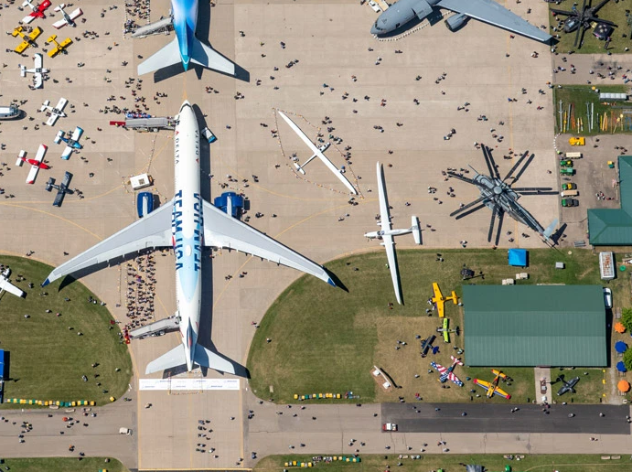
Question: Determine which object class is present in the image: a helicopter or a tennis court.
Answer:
helicopter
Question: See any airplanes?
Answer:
Yes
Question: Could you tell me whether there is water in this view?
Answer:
No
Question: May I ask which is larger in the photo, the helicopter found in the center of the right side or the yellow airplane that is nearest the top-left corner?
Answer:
the helicopter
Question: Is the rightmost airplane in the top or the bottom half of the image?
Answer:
bottom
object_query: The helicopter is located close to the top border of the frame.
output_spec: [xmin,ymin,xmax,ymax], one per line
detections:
[550,0,620,46]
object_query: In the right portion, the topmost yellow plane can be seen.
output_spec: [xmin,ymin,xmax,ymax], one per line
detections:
[427,282,459,318]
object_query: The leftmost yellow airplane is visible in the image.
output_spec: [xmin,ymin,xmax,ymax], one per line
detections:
[13,24,43,54]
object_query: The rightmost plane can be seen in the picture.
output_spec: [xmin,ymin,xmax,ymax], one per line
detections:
[558,372,580,394]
